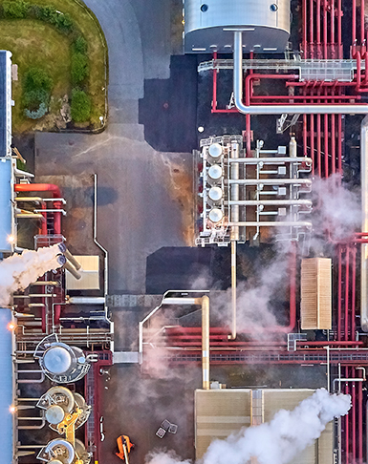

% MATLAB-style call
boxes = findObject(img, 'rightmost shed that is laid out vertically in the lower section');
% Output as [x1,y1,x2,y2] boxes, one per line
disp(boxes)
[297,257,331,329]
